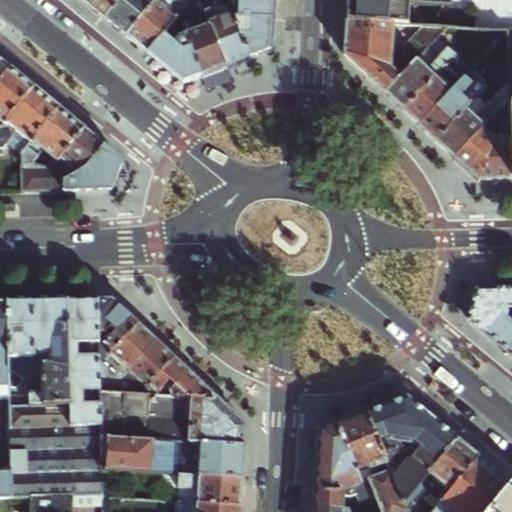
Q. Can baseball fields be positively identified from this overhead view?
No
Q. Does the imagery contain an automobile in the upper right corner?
No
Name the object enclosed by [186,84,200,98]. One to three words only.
umbrella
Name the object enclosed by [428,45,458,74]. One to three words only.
shed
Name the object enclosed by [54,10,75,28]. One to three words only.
car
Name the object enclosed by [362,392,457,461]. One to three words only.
house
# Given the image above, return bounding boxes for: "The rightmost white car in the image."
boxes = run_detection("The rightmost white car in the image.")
[487,429,507,447]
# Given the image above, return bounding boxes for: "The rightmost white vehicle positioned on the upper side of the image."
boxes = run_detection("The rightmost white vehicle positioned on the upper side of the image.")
[204,146,229,166]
